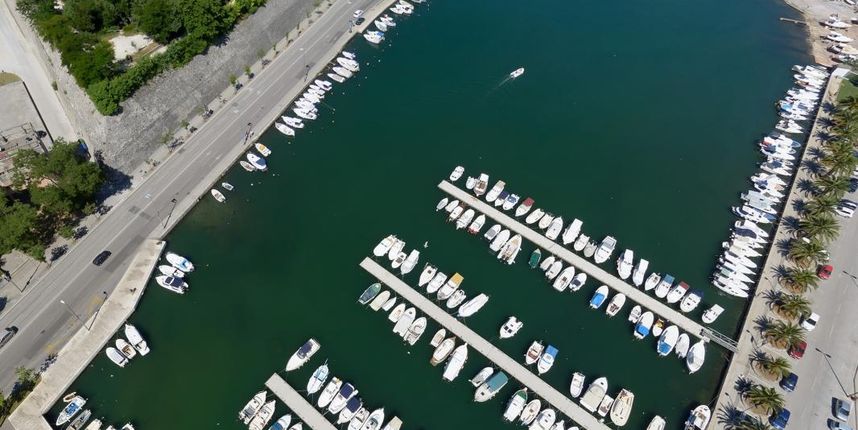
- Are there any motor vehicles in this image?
Yes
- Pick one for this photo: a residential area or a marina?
marina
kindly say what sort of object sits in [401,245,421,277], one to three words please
boat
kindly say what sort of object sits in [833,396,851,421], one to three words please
car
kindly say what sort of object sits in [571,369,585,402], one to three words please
boat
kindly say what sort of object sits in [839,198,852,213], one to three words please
vehicle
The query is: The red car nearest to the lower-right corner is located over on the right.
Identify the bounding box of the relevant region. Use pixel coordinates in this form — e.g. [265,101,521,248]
[793,338,809,361]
